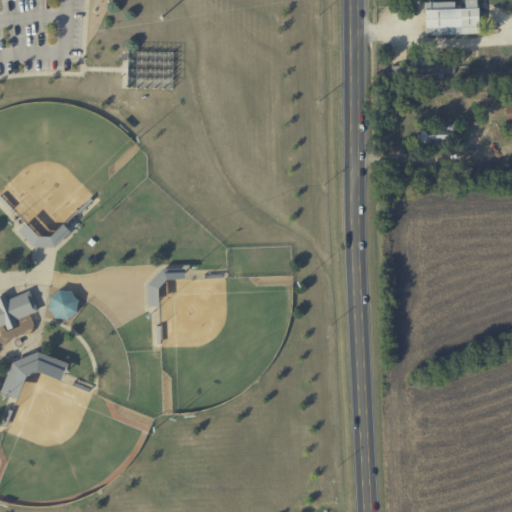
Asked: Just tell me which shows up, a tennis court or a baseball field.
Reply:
baseball field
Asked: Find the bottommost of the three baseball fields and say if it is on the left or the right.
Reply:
left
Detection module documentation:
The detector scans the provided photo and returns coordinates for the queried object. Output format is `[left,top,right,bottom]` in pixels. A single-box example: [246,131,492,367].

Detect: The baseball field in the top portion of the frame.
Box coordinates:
[0,102,141,236]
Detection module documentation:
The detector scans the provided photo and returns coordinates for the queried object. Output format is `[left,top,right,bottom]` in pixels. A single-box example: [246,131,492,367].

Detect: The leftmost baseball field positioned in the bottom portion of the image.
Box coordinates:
[0,372,153,506]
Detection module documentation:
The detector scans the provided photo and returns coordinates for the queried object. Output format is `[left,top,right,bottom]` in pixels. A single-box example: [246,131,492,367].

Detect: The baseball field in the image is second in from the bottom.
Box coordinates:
[160,247,293,414]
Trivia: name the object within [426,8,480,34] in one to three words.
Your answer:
barn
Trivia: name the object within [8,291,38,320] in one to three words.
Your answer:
building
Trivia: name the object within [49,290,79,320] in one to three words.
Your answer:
gazebo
